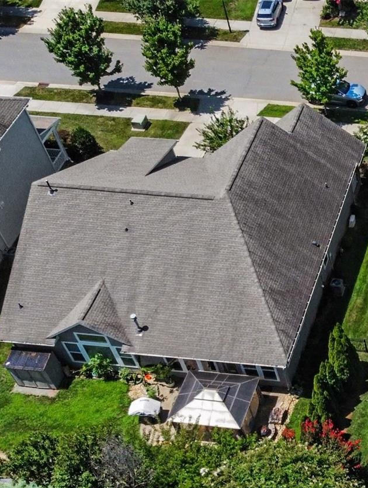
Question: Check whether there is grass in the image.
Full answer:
Yes, there's grass in this view.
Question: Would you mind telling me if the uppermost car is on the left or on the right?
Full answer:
The uppermost car is on the right side of the image.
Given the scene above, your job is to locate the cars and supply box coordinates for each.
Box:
[255,0,286,25]
[334,82,368,107]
